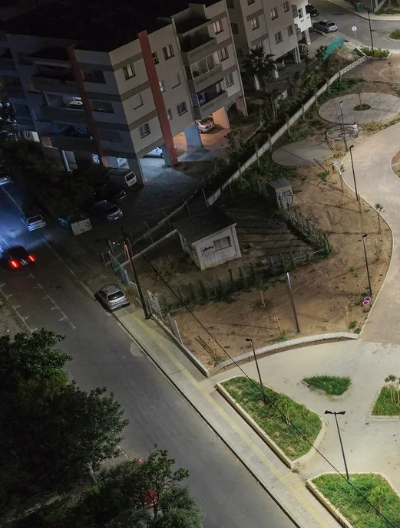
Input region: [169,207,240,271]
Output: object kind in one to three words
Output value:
shed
